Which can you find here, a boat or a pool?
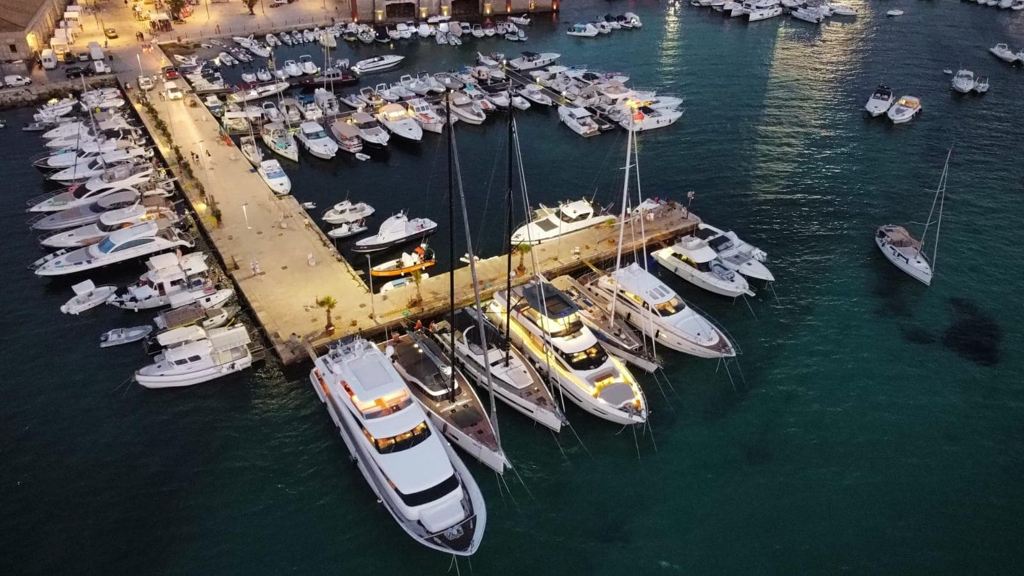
boat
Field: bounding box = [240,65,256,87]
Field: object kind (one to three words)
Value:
boat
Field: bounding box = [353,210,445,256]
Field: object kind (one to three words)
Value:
boat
